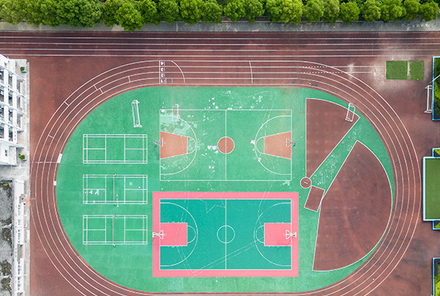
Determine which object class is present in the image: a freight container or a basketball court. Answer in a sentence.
I can see a basketball court in this picture.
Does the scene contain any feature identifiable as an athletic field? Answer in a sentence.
Yes, the photo shows an athletic field.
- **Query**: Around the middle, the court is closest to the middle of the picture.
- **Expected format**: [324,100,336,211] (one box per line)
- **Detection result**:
[160,109,291,180]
